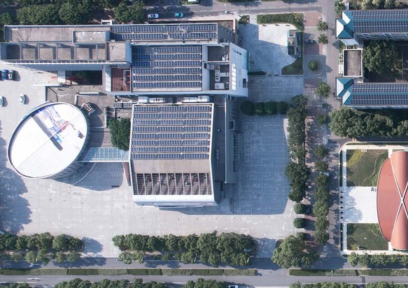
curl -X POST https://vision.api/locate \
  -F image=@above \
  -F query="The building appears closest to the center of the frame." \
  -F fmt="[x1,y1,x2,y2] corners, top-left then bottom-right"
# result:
[114,95,236,205]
